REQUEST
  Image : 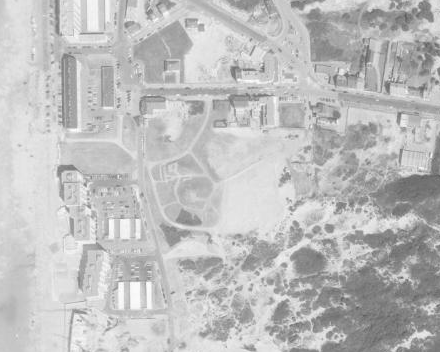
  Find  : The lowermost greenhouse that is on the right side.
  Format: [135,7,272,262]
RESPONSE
[402,150,429,168]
